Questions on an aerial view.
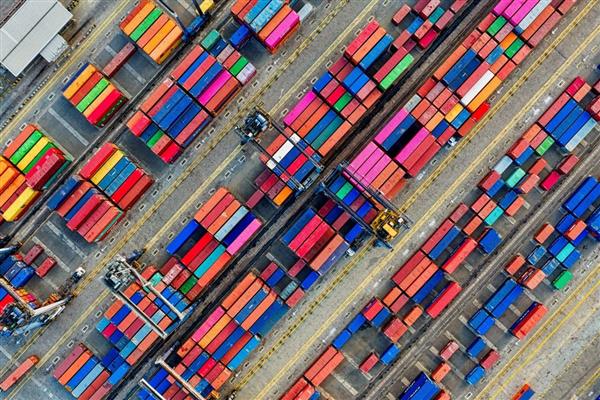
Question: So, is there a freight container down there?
Yes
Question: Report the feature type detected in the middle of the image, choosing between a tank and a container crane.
container crane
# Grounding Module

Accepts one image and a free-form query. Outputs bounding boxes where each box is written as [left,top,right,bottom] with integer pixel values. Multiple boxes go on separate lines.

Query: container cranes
[231,102,325,197]
[139,336,240,400]
[0,282,74,340]
[313,159,411,249]
[152,0,209,43]
[96,243,206,339]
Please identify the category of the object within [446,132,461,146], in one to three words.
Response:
vehicle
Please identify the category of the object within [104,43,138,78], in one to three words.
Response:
shipping container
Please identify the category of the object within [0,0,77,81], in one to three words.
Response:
building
